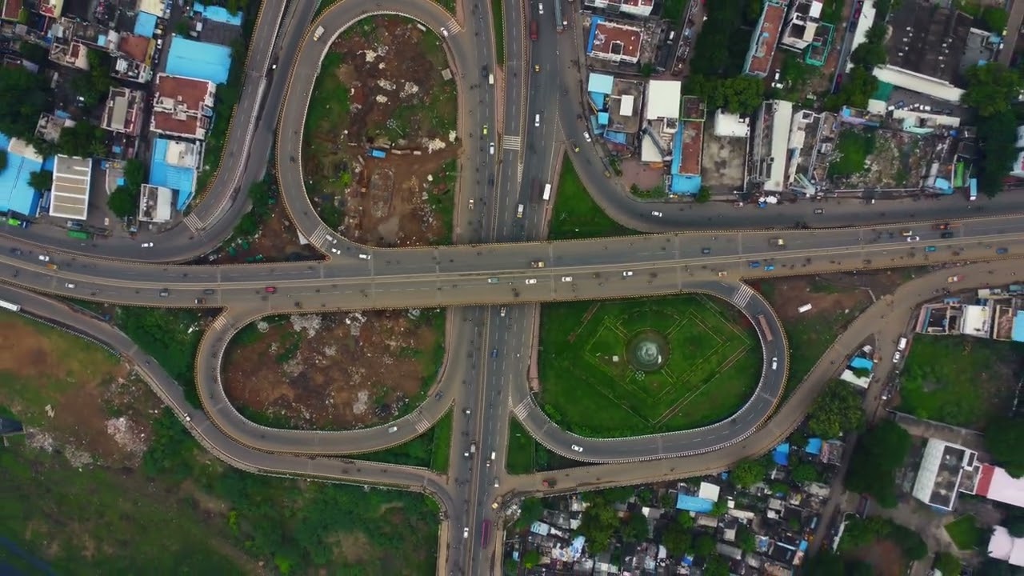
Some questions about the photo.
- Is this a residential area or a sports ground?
residential area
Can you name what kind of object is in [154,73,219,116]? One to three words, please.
house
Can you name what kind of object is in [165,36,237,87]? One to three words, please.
shed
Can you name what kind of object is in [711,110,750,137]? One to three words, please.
house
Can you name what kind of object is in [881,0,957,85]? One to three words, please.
building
